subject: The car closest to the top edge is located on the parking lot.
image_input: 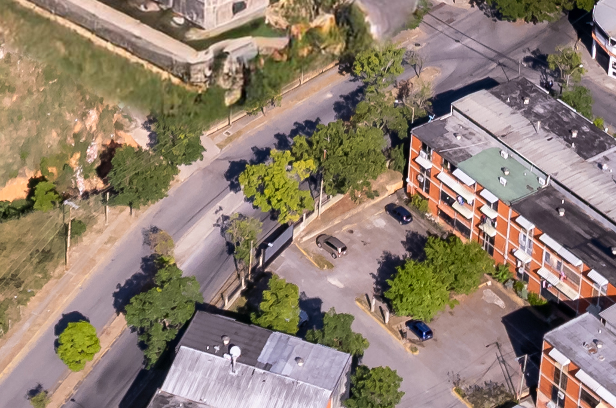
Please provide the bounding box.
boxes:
[379,201,419,226]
